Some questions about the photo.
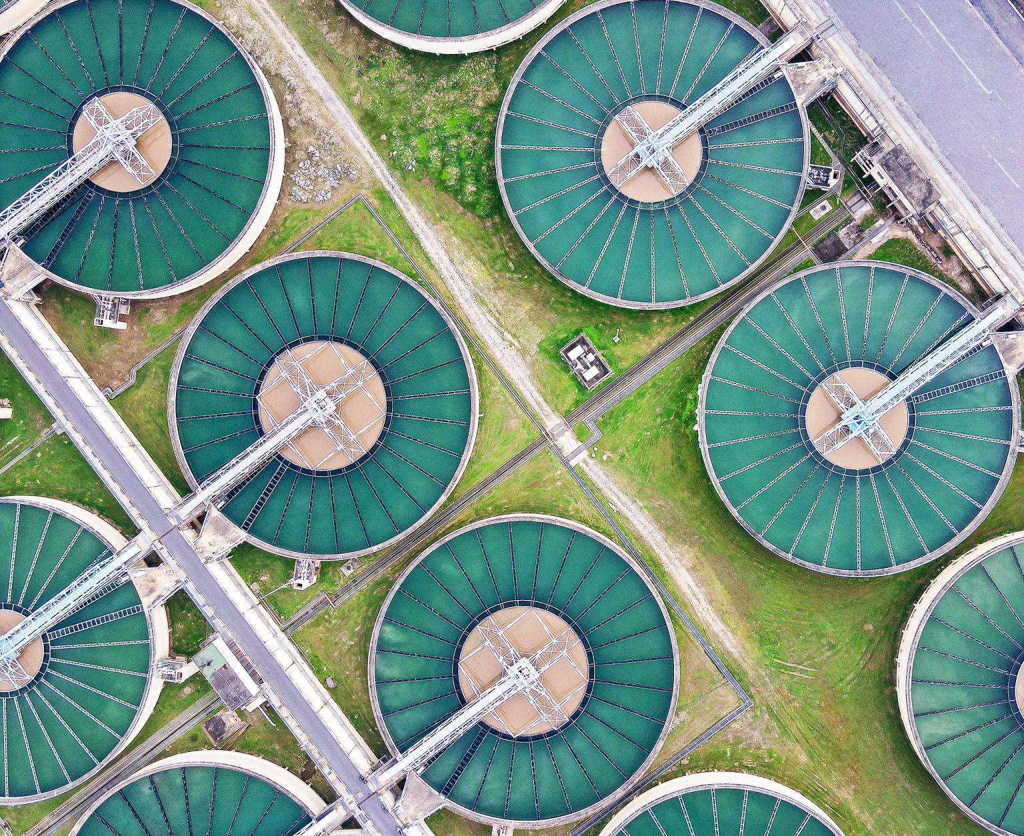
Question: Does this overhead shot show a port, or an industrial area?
industrial area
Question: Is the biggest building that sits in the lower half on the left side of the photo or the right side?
left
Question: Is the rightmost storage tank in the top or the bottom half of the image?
bottom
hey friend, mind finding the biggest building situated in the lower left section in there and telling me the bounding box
[191,634,263,712]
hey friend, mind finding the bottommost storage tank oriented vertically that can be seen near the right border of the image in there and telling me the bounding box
[894,534,1024,836]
